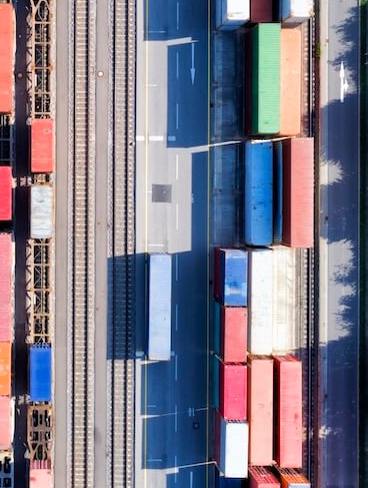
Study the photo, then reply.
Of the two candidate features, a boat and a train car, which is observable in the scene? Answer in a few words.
train car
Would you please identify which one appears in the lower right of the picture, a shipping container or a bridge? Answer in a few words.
shipping container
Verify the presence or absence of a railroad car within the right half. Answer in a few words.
No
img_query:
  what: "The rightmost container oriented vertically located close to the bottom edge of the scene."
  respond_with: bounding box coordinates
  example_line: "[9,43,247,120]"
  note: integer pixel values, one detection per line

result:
[271,355,302,468]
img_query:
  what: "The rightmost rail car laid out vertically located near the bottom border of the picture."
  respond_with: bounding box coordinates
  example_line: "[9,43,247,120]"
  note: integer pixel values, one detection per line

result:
[27,405,52,468]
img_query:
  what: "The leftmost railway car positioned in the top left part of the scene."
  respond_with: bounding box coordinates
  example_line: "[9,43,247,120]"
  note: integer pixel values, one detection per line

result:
[0,1,15,225]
